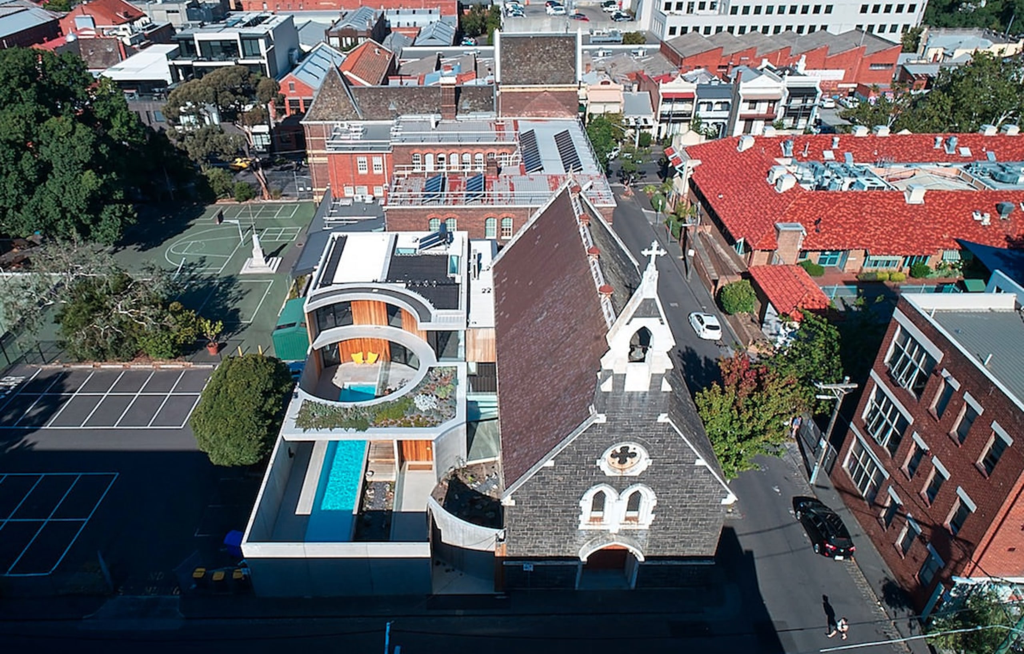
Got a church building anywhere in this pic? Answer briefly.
Yes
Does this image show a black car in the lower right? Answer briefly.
Yes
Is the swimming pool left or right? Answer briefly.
left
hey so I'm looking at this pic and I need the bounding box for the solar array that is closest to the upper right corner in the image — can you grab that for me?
[554,129,583,172]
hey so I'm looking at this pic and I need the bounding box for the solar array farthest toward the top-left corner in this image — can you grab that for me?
[425,175,443,203]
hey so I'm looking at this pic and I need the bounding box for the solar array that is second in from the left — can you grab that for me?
[466,175,484,203]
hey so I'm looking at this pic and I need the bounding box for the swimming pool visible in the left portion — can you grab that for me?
[302,441,366,542]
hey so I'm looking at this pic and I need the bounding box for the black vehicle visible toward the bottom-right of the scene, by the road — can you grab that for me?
[789,486,855,549]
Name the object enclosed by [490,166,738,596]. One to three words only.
church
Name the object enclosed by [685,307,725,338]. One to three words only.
car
